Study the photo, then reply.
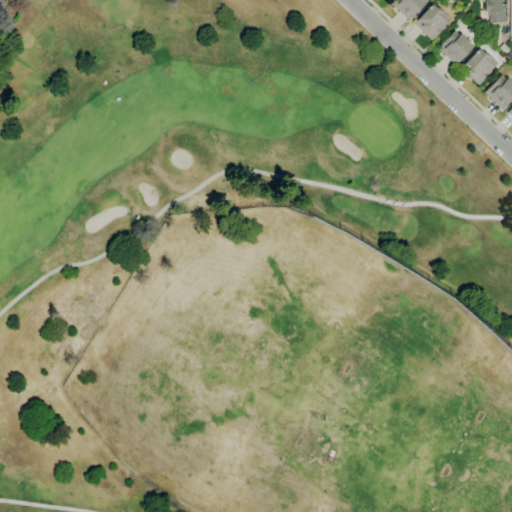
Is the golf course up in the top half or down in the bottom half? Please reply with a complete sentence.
Seen from above, the golf course lies in the top half of the view.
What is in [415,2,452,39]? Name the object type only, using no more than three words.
house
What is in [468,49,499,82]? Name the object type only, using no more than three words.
house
